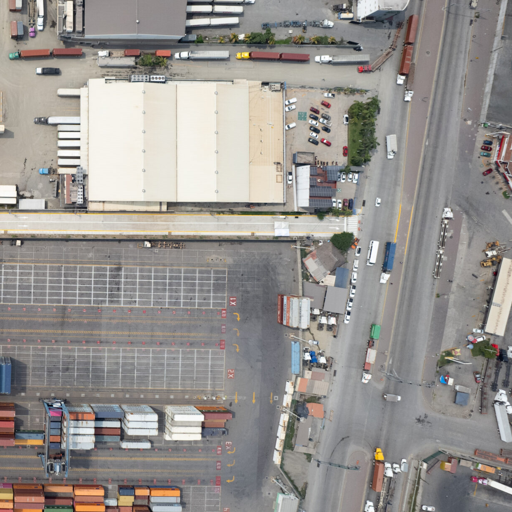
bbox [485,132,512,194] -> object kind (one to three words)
building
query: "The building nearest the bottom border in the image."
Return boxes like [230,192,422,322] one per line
[268,487,299,512]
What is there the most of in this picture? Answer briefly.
paved ground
